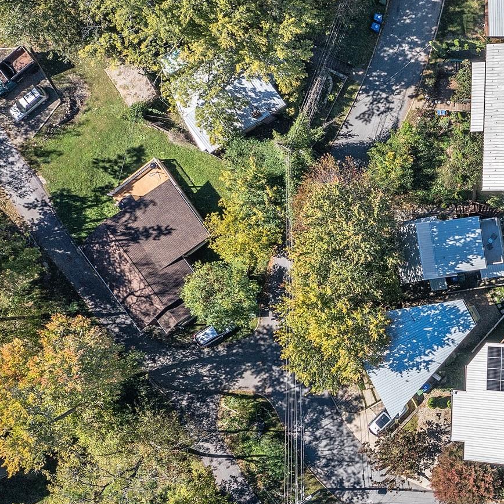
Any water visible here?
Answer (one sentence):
No, there's no water in this view.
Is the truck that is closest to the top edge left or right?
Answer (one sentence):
You can find the truck that is closest to the top edge on the left side of the picture.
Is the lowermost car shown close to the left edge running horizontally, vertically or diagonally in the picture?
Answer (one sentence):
What the image shows is the lowermost car shown close to the left edge lying diagonally.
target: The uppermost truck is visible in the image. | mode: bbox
[0,43,48,100]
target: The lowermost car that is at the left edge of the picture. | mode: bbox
[6,85,55,123]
